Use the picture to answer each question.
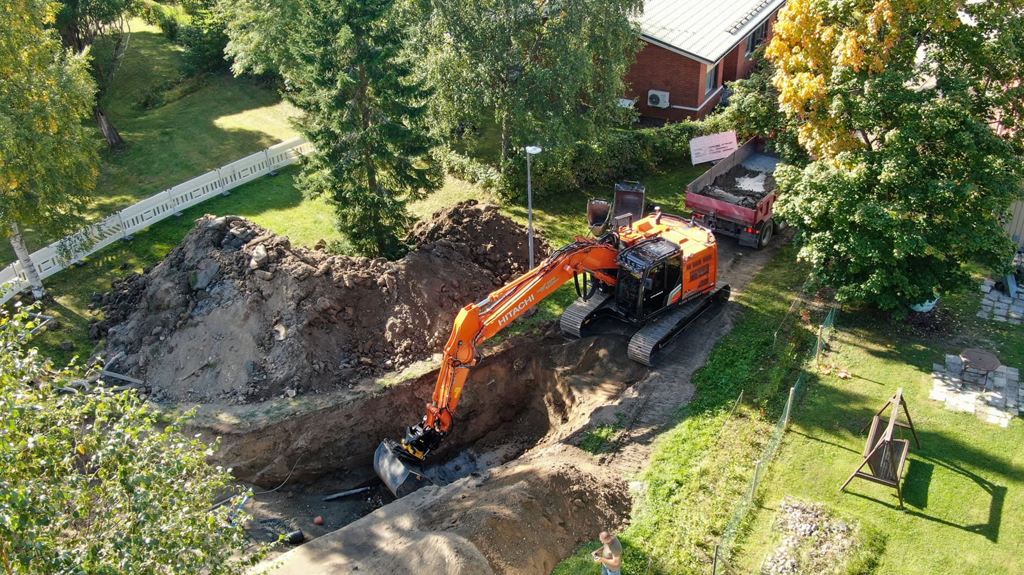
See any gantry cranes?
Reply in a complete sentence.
No, there is no gantry crane in the image.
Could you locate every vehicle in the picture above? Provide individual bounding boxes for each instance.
[366,203,730,496]
[681,134,788,255]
